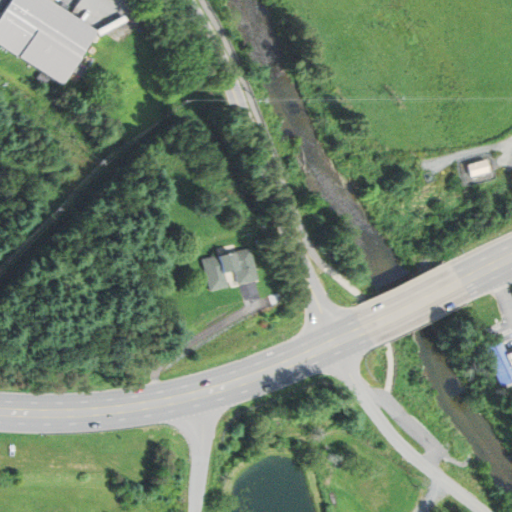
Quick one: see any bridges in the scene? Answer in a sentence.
Yes, this view includes a bridge.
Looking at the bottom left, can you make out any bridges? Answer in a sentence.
No, no bridge can be made out at the bottom left.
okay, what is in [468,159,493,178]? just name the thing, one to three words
building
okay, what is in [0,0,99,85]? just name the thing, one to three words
building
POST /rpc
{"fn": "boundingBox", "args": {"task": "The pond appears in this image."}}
[232,455,316,512]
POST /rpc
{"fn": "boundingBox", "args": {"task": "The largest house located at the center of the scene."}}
[202,248,260,292]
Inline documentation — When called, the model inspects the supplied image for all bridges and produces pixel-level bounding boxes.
[352,264,468,350]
